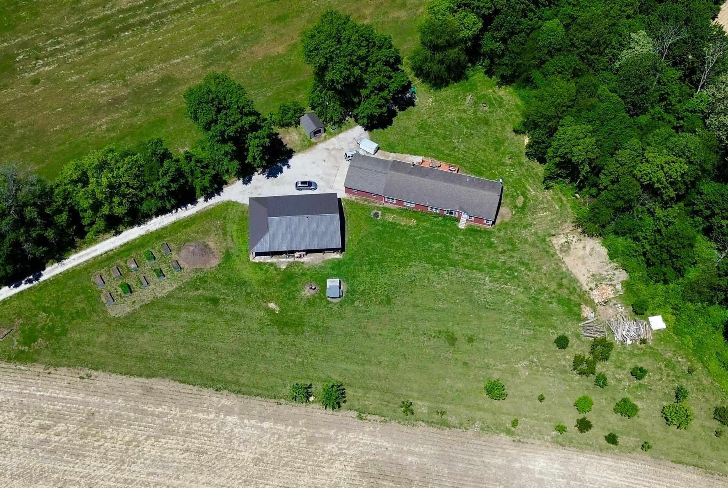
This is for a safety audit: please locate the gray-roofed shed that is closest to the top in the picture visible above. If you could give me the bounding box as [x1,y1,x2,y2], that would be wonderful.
[299,113,324,138]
